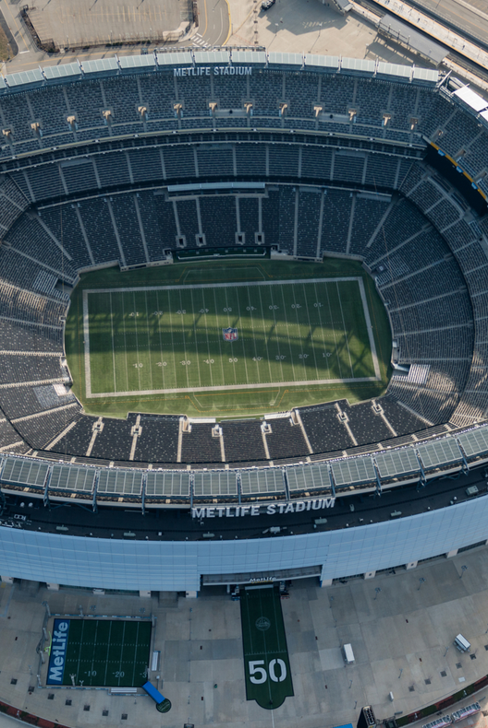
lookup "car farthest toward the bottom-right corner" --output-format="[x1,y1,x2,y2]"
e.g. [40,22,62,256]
[451,699,486,724]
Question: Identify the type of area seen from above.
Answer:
sports ground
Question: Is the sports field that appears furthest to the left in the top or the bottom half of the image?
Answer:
bottom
